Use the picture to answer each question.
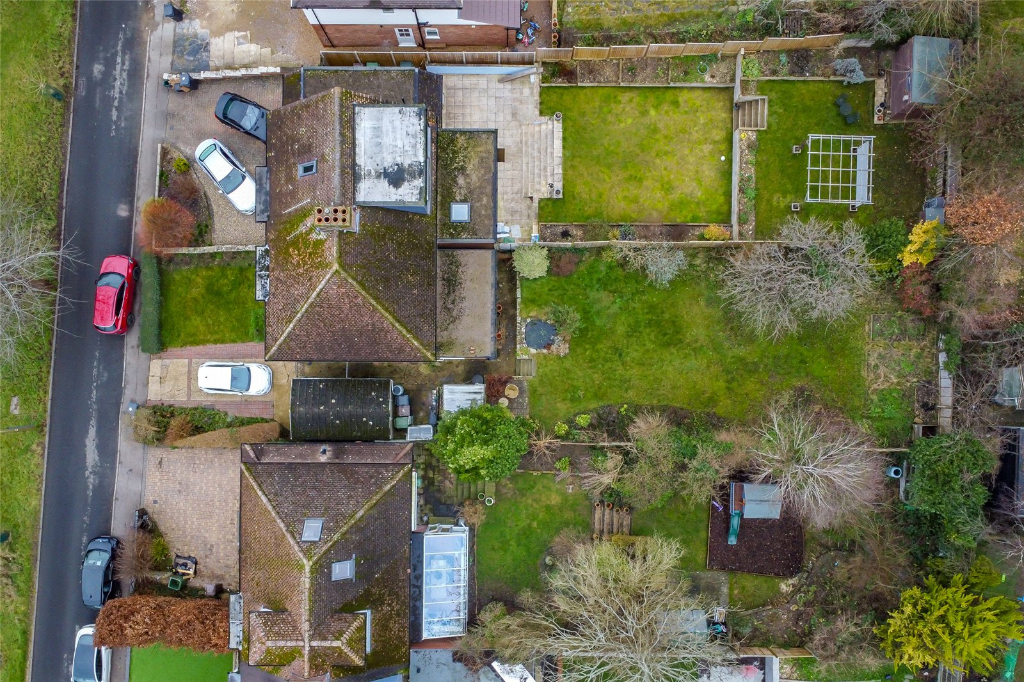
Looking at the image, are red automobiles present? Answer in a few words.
Yes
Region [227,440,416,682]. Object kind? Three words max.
house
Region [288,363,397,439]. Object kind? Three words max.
building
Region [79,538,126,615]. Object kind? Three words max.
car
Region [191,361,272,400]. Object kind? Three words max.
car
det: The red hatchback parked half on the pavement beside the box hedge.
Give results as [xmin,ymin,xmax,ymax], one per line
[91,255,140,333]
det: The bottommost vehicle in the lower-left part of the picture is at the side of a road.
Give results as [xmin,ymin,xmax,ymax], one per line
[72,626,117,682]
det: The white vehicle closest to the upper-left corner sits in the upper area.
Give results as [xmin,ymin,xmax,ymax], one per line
[186,131,255,211]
